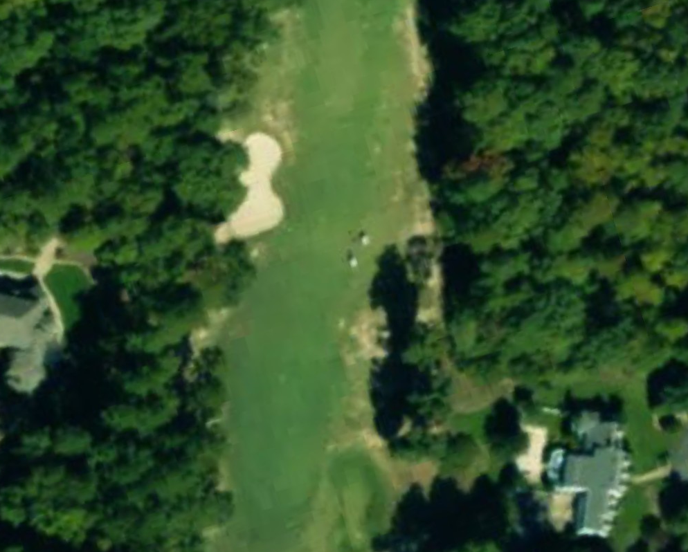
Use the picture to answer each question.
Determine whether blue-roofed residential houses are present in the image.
No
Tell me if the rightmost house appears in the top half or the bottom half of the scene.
bottom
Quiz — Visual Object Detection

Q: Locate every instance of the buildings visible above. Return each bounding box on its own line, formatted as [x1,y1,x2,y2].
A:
[0,292,76,393]
[548,410,629,536]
